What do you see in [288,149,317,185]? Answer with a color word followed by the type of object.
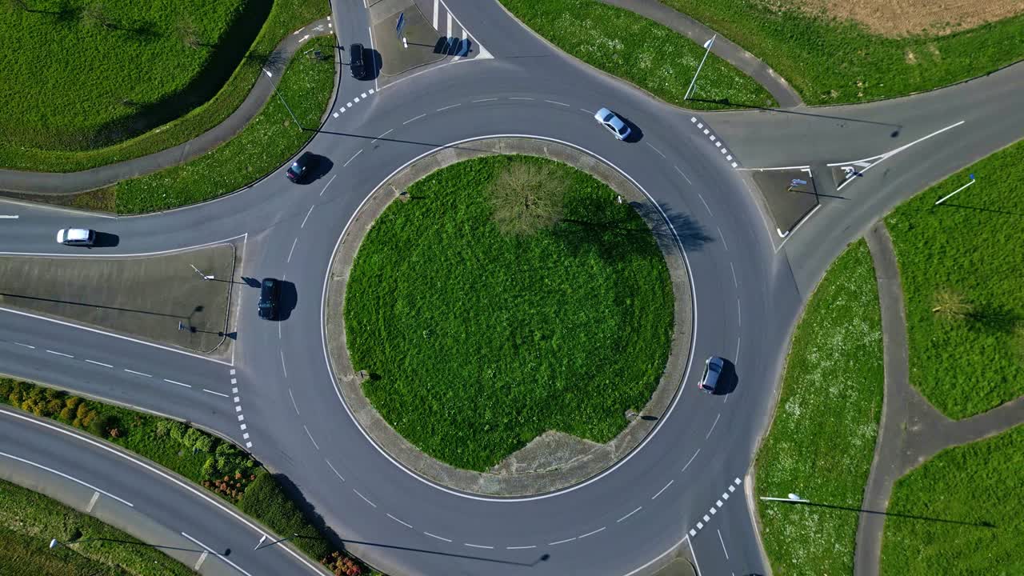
black car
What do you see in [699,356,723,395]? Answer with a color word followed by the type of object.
blue car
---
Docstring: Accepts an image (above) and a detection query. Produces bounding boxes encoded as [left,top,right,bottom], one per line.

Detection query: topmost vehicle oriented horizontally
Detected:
[57,227,99,247]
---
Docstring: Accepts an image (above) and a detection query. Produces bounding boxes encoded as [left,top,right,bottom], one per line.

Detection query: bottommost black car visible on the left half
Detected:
[258,278,280,320]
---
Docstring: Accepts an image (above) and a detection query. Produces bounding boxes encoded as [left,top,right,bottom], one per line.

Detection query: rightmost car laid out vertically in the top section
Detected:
[349,43,367,80]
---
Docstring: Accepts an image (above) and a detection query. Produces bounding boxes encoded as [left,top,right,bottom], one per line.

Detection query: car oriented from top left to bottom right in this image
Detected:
[595,109,632,141]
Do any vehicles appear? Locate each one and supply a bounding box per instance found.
[349,43,367,80]
[288,149,317,185]
[699,356,723,395]
[57,227,99,247]
[258,278,280,320]
[595,109,632,141]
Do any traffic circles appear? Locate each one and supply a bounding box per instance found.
[213,46,804,576]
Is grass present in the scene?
Yes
